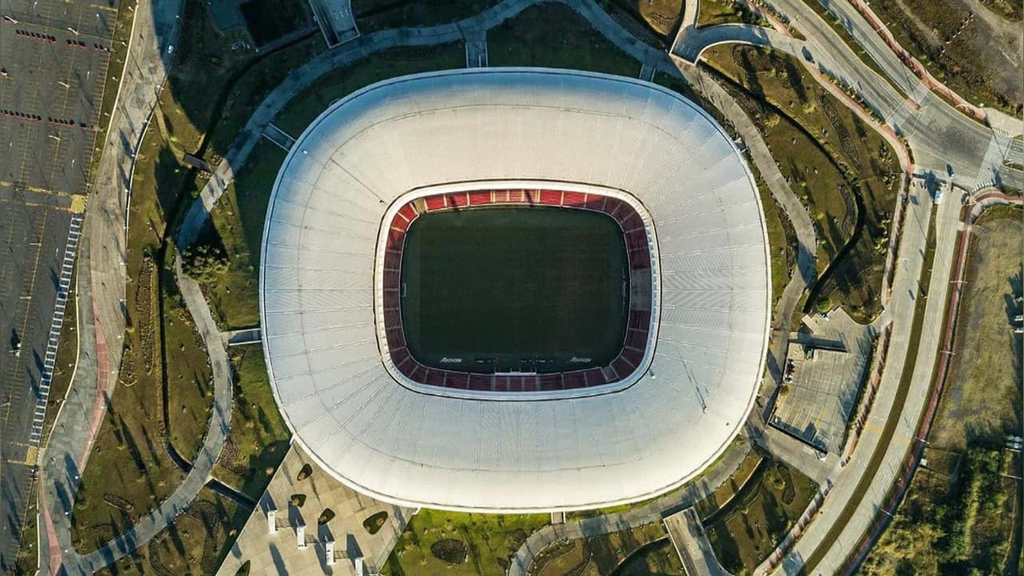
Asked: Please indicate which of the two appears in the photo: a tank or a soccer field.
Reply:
soccer field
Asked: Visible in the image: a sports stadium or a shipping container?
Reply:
sports stadium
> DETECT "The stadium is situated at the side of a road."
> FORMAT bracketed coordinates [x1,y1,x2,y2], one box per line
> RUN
[261,67,771,512]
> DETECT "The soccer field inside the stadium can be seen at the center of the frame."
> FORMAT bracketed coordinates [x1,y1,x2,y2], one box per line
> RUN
[400,204,630,374]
